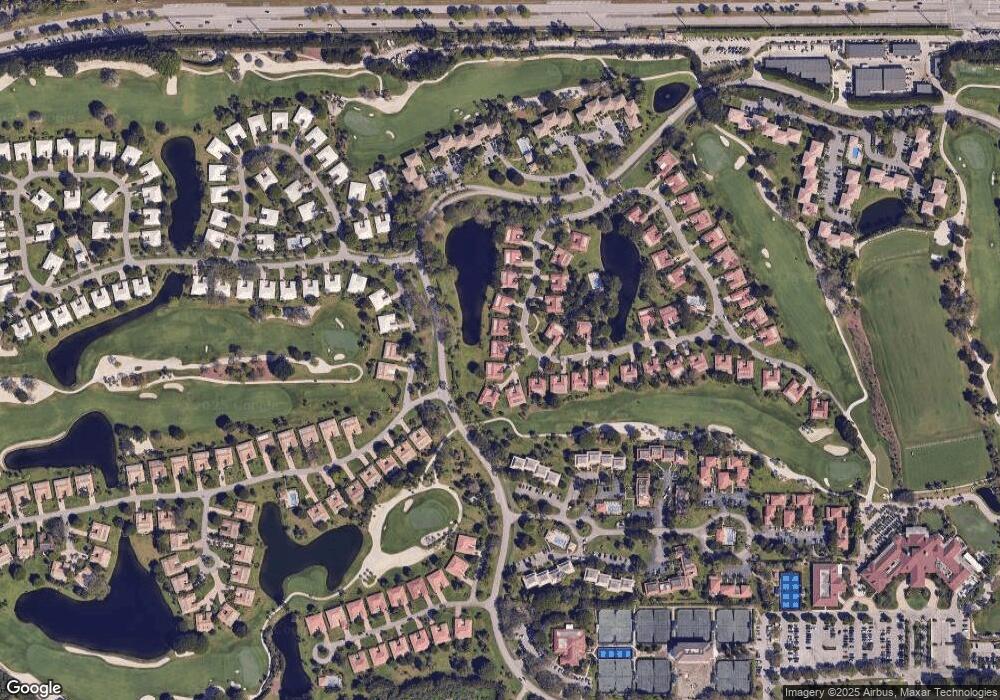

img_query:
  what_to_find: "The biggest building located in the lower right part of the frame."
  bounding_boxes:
[860,526,977,596]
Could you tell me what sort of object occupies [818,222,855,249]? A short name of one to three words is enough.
building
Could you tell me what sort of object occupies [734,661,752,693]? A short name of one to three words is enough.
tennis court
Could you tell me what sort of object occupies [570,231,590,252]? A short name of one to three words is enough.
house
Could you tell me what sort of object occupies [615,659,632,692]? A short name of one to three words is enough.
tennis court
